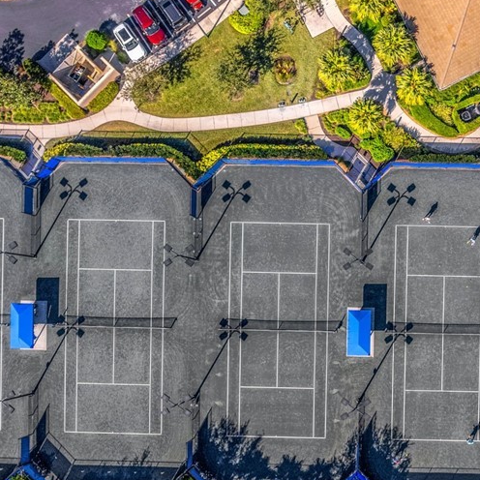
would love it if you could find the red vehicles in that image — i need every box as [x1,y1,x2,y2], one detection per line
[132,1,167,46]
[189,0,207,9]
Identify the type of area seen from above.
sports ground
